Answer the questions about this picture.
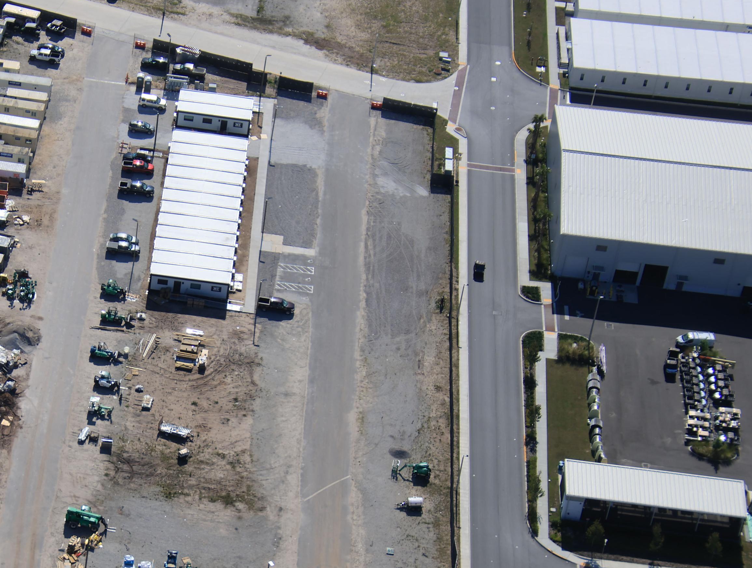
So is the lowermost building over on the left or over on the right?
right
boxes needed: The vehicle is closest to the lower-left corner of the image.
[63,496,127,533]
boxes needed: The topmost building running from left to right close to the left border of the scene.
[0,71,52,99]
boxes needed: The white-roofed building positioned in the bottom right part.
[563,454,748,542]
